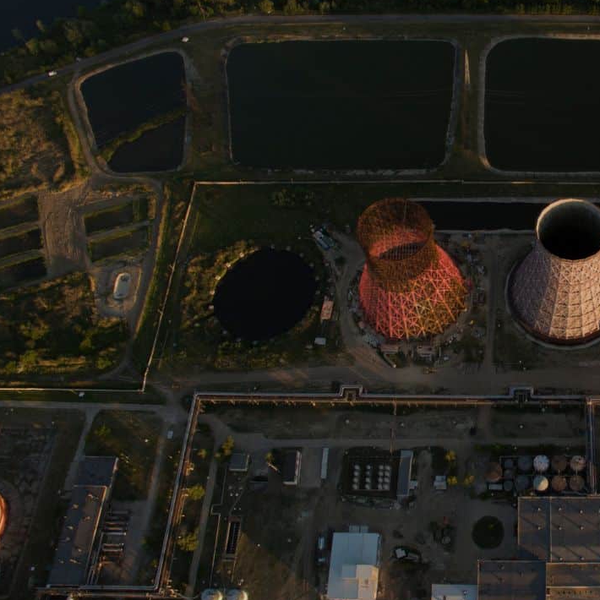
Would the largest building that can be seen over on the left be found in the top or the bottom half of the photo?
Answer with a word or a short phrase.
bottom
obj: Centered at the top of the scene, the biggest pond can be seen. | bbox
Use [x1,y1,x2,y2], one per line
[230,44,454,169]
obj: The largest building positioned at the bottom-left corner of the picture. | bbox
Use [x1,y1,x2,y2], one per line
[49,486,112,586]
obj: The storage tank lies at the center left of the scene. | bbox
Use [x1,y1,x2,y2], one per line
[106,267,135,302]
